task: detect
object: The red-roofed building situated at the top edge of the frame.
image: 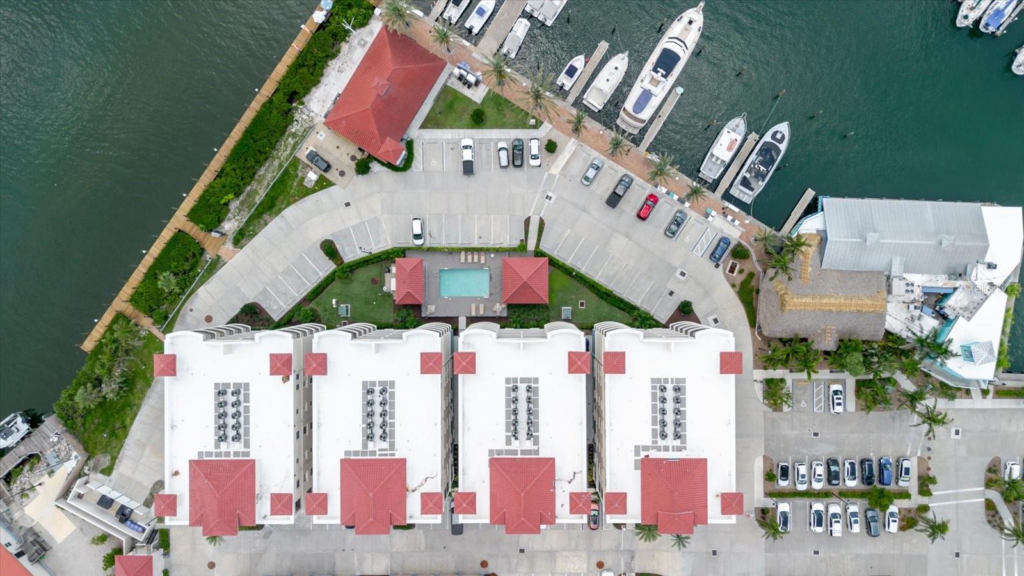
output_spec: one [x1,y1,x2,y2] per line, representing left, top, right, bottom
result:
[324,24,447,175]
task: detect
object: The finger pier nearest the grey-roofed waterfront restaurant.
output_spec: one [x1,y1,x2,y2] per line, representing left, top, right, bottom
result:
[779,187,816,233]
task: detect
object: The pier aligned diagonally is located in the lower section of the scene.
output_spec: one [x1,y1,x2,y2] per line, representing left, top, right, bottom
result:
[0,414,62,478]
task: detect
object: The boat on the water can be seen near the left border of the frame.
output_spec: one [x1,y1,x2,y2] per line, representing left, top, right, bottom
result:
[0,408,39,459]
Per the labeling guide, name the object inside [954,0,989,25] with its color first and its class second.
white boat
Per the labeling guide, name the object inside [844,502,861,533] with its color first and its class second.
white car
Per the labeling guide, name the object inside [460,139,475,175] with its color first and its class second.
white vehicle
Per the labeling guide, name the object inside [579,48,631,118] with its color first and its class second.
white boat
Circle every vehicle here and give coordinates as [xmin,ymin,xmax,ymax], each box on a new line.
[605,173,633,209]
[826,503,843,536]
[842,458,858,487]
[663,208,688,239]
[587,496,600,528]
[859,456,876,486]
[304,148,334,174]
[776,461,790,486]
[793,460,809,491]
[460,139,475,175]
[580,156,604,187]
[827,382,845,414]
[411,216,425,247]
[895,456,913,487]
[1002,459,1021,489]
[825,455,841,486]
[883,507,900,534]
[448,494,464,534]
[708,234,732,265]
[863,506,880,537]
[844,502,861,533]
[776,500,791,532]
[527,137,542,168]
[809,501,826,533]
[810,459,826,490]
[876,456,893,486]
[495,142,509,169]
[635,192,660,222]
[510,138,525,169]
[1019,457,1024,488]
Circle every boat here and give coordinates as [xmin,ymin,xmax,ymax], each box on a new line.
[954,0,989,25]
[535,0,566,28]
[618,0,707,135]
[465,0,494,36]
[726,123,791,208]
[524,0,547,18]
[696,112,748,188]
[557,55,585,92]
[500,19,530,62]
[579,48,631,118]
[442,0,467,27]
[0,408,39,459]
[977,0,1017,31]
